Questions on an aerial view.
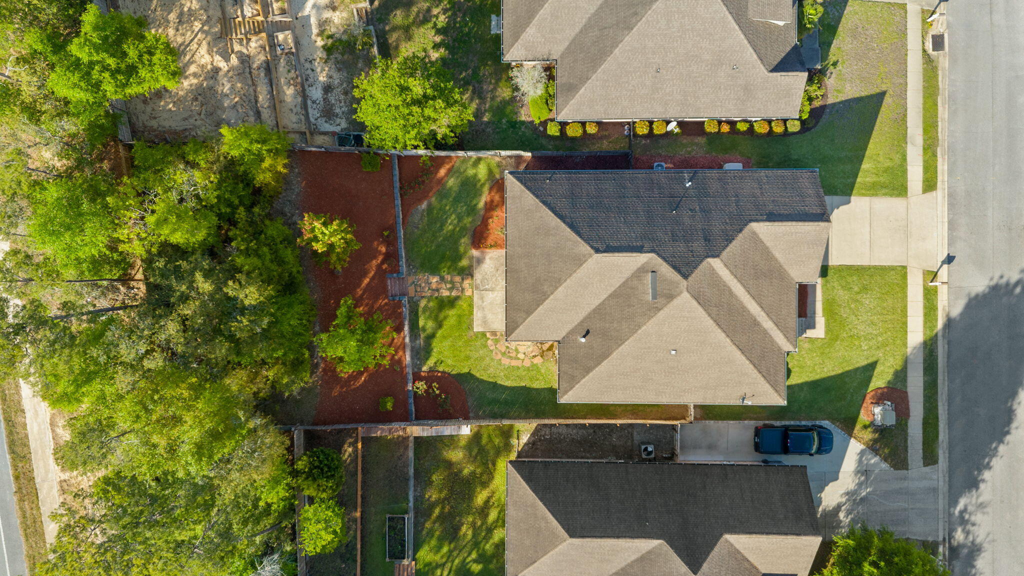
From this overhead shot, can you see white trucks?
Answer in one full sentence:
No, there's no white truck here.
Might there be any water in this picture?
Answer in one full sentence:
No, no water is visible.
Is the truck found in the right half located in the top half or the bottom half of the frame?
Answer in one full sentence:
You can find the truck found in the right half in the bottom half.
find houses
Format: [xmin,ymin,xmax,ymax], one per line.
[503,168,831,406]
[505,460,821,576]
[500,0,810,122]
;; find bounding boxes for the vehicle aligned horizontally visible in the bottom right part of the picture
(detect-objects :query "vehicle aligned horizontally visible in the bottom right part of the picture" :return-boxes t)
[751,425,830,458]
